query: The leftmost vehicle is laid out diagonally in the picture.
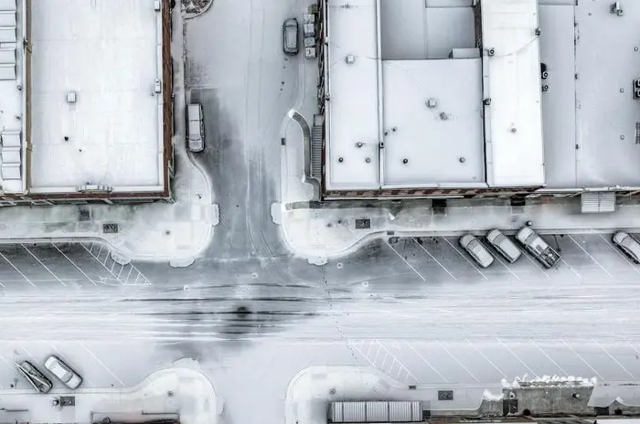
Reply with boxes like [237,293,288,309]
[21,361,54,394]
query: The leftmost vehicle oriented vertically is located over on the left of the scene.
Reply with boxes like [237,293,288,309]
[185,104,205,153]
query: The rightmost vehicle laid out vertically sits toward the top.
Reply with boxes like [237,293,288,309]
[282,17,299,57]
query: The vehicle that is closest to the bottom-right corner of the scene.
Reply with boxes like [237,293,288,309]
[611,230,640,266]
